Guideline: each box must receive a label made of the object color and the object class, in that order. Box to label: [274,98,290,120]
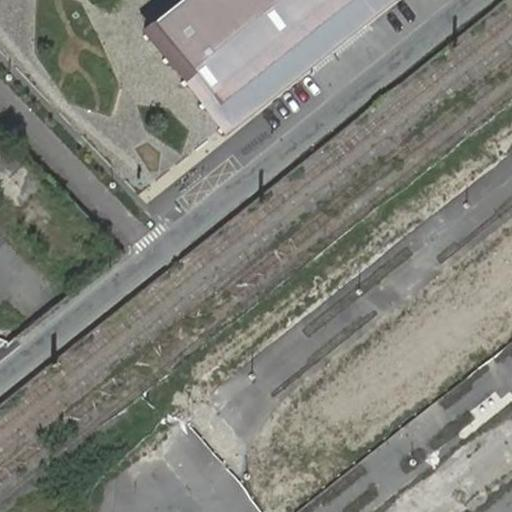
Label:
gray car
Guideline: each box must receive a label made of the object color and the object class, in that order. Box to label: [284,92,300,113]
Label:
white car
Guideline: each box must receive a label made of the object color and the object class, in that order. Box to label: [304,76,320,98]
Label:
white car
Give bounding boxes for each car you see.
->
[304,76,320,98]
[274,98,290,120]
[263,108,280,130]
[284,92,300,113]
[386,12,403,32]
[397,0,416,24]
[294,84,310,104]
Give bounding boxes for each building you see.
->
[144,0,399,132]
